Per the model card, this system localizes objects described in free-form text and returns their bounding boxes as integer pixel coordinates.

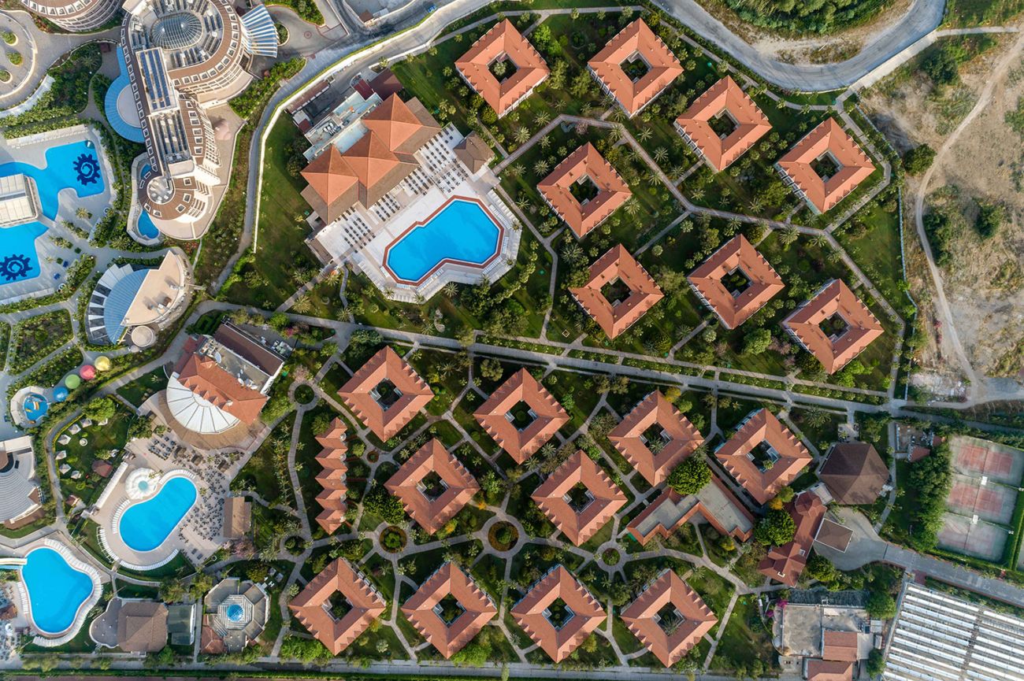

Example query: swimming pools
[119,476,199,553]
[384,196,504,285]
[137,208,160,240]
[21,547,95,634]
[0,138,106,222]
[0,221,50,286]
[22,392,50,421]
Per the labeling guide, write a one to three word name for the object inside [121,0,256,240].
building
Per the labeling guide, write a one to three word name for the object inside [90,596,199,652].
building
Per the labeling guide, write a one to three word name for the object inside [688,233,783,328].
house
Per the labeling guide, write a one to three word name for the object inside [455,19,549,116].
house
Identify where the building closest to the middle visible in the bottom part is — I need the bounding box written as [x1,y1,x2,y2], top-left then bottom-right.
[474,368,569,464]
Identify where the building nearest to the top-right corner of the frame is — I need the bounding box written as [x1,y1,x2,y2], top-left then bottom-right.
[775,118,874,214]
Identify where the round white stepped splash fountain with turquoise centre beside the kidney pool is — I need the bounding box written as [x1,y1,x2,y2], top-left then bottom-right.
[128,472,158,500]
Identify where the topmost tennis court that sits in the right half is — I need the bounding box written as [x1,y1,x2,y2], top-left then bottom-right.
[946,437,1024,489]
